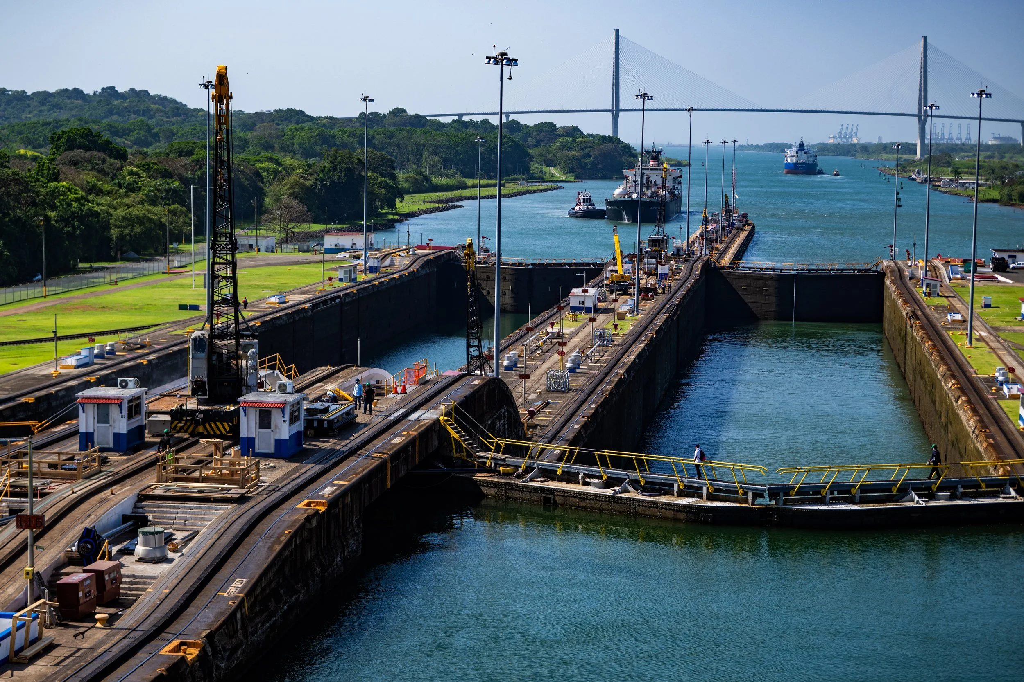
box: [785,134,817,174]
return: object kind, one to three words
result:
ship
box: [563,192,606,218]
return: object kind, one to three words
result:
boat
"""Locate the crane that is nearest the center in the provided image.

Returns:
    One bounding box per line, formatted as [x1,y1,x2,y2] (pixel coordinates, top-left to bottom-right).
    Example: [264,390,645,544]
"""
[461,223,510,373]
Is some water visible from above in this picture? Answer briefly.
Yes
